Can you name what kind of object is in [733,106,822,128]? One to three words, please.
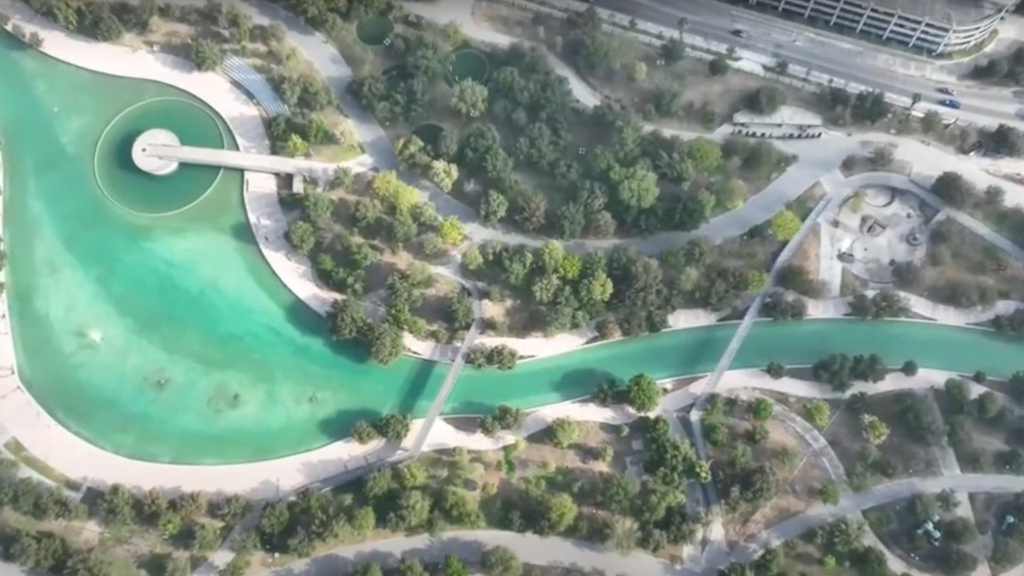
building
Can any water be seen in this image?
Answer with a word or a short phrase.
Yes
